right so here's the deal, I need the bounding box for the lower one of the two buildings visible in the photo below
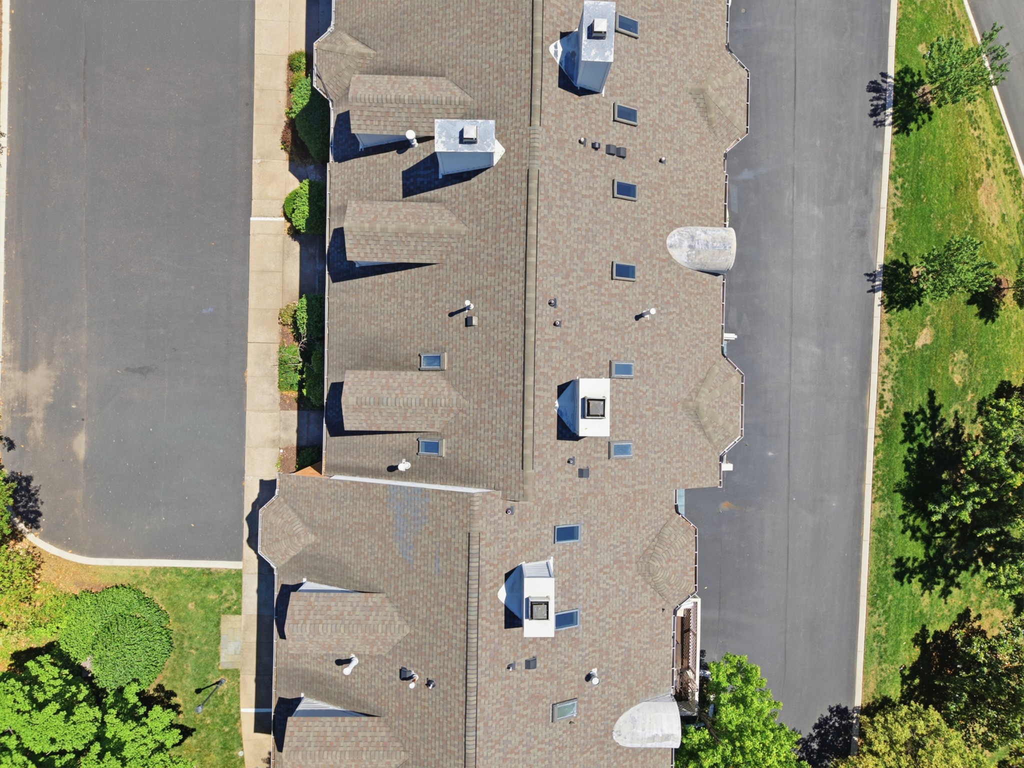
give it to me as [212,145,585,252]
[256,462,700,768]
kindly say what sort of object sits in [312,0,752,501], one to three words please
house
